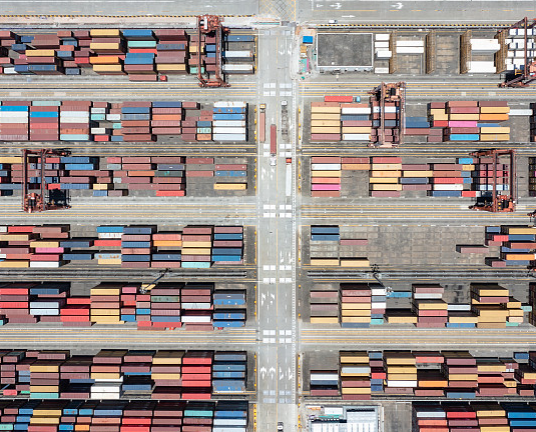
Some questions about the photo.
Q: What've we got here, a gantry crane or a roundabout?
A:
gantry crane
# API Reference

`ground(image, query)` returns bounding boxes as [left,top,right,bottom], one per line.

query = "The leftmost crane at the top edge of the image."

[195,13,230,86]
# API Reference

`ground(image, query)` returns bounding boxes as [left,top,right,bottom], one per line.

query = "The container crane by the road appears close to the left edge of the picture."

[23,149,72,214]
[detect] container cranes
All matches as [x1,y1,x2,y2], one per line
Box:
[366,80,406,147]
[495,12,536,86]
[23,149,72,214]
[195,13,230,86]
[468,149,517,215]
